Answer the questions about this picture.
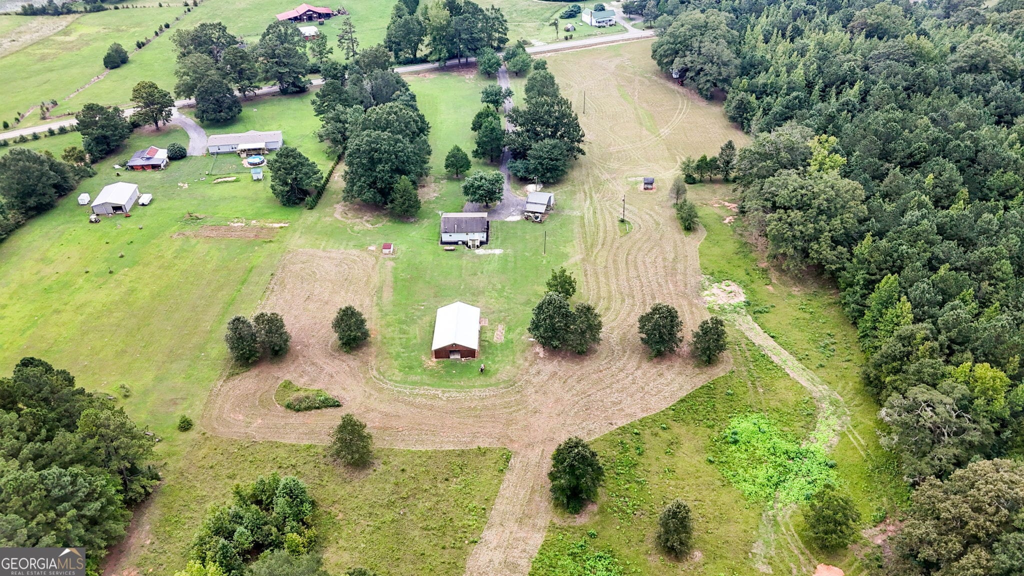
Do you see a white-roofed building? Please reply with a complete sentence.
Yes, a white-roofed building is visible in the scene.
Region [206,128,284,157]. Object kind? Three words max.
house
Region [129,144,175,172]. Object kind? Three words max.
barn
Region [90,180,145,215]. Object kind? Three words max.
building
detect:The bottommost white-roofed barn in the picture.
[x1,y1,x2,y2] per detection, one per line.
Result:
[432,301,480,360]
